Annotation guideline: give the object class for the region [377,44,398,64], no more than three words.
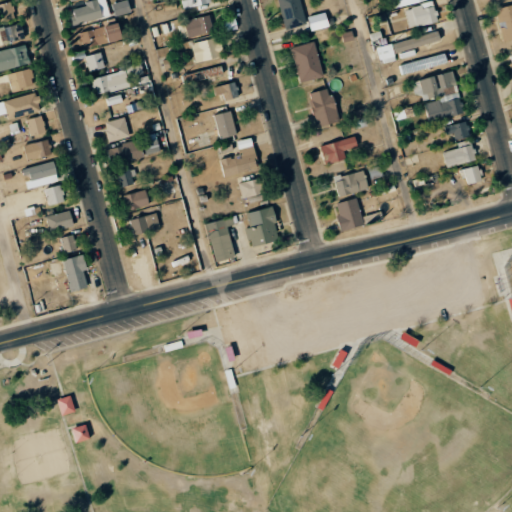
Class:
house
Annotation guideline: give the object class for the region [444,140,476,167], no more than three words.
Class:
house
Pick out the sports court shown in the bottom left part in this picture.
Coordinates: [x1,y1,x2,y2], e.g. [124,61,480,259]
[16,430,69,484]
